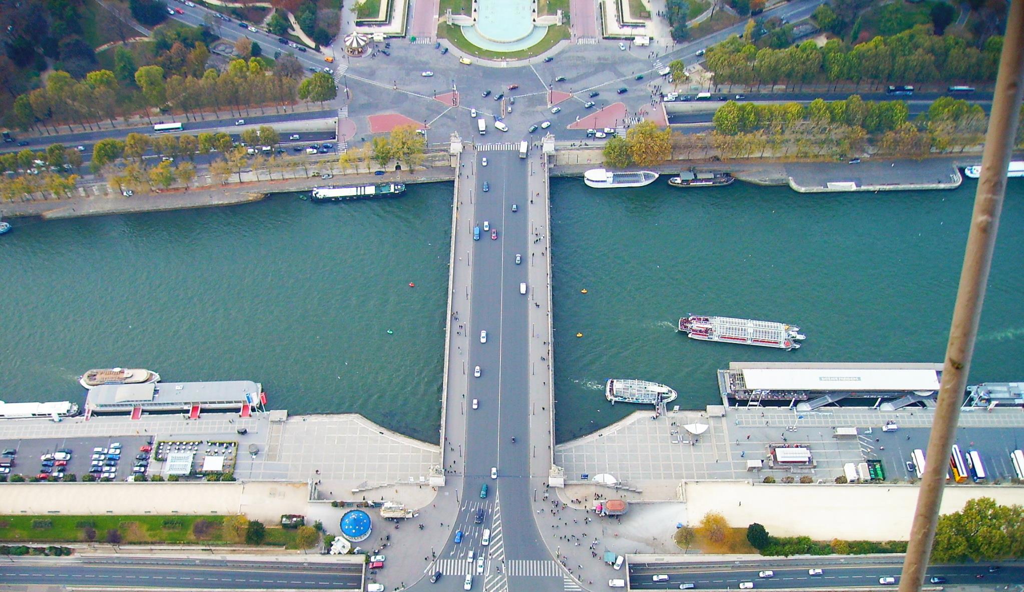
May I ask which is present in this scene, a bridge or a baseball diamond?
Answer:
bridge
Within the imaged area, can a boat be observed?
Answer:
Yes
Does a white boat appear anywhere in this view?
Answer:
Yes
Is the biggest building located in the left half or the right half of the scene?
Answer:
right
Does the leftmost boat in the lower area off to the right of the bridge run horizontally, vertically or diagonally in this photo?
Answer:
horizontally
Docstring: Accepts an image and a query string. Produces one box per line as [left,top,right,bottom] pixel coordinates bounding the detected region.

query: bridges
[435,150,560,482]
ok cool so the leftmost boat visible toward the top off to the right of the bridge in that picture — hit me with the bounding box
[581,170,661,189]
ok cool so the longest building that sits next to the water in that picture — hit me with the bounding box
[729,365,944,407]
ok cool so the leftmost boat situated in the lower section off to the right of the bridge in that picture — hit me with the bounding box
[605,379,677,405]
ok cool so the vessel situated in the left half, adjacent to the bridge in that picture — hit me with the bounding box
[307,183,410,204]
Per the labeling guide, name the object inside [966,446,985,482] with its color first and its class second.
white vehicle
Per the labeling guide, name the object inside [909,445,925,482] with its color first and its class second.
white vehicle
